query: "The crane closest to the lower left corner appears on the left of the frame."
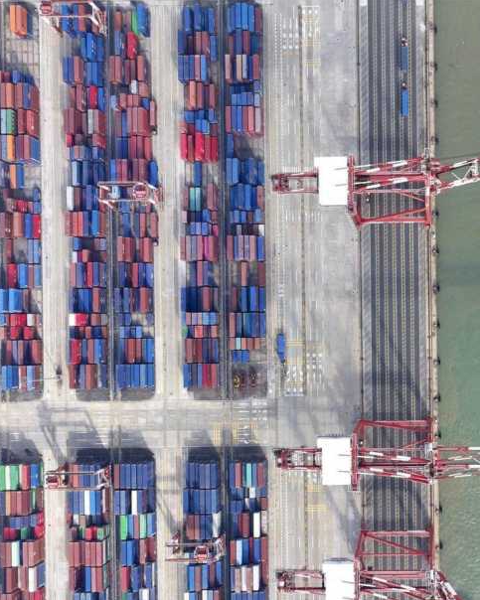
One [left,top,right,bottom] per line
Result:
[39,455,117,491]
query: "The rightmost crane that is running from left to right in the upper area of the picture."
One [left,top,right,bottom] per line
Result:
[272,151,480,244]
